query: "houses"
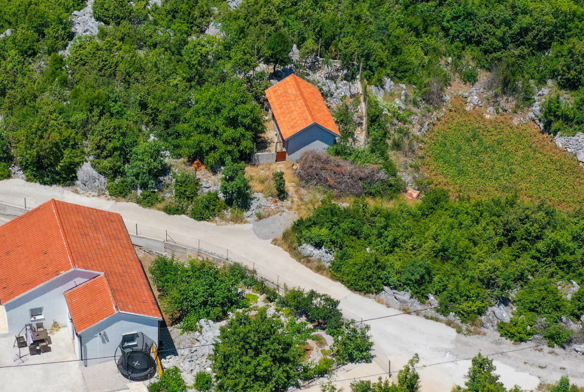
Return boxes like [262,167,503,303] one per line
[0,200,164,366]
[260,73,342,163]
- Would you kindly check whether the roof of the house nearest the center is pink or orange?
orange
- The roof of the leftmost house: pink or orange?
orange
